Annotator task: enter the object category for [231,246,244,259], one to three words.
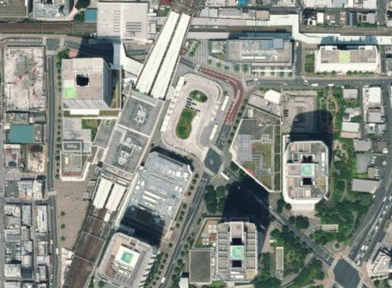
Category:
helipad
